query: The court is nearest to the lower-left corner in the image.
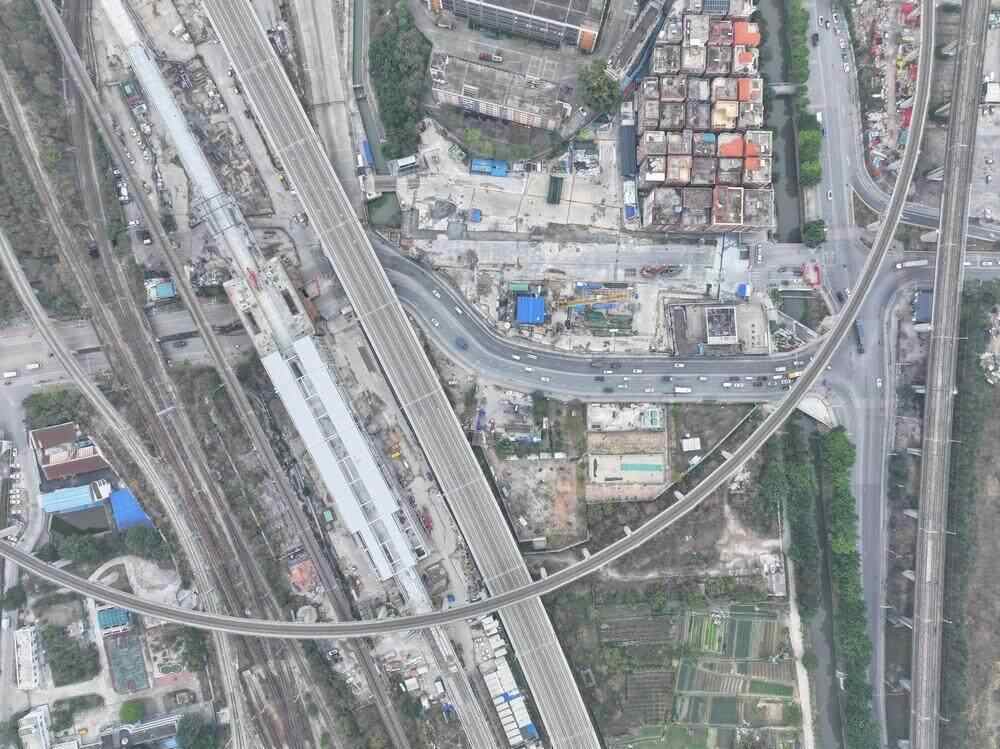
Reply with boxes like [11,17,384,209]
[109,633,148,694]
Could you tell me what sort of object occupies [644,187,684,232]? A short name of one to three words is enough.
house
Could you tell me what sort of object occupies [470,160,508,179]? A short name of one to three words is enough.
shed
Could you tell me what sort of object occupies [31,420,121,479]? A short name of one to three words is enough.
building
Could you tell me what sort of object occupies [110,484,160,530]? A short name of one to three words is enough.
shed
